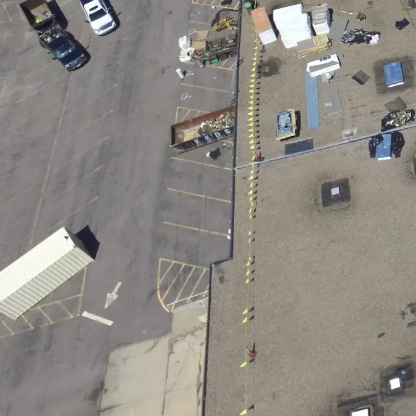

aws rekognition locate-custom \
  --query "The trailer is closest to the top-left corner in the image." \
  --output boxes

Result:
[10,0,56,34]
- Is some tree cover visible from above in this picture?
No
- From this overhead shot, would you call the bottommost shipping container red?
No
